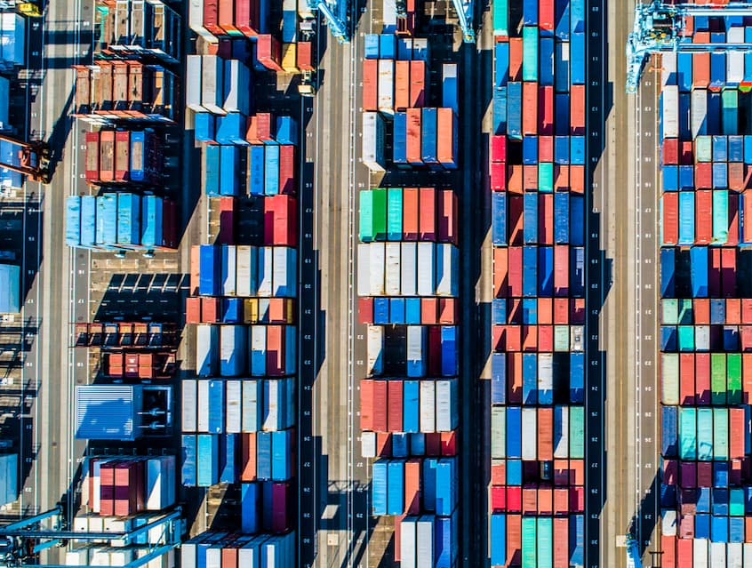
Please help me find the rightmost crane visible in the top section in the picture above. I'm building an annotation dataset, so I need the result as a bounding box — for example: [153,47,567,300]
[623,0,752,99]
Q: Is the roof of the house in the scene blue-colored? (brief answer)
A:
Yes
